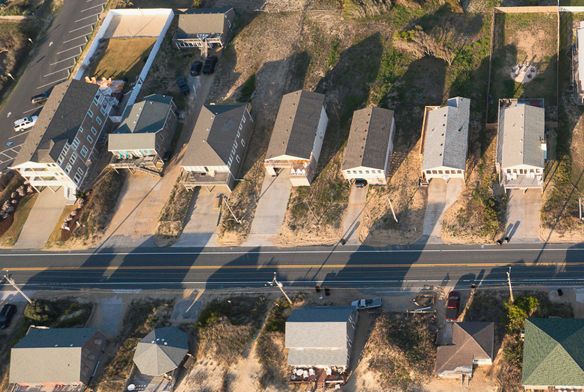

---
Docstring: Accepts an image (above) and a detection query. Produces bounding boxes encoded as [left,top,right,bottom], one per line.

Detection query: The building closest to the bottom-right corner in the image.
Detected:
[522,318,584,392]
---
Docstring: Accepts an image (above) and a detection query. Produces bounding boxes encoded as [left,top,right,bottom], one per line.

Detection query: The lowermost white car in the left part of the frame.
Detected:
[11,116,33,133]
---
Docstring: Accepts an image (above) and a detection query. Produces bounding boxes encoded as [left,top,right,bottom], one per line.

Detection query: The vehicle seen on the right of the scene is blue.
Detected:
[355,295,383,310]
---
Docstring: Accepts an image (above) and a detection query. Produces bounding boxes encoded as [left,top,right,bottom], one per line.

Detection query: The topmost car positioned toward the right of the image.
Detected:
[354,178,367,191]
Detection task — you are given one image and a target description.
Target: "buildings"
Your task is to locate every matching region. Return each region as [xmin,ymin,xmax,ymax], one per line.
[341,107,397,187]
[285,295,361,392]
[109,90,182,186]
[434,322,494,384]
[417,92,471,187]
[569,19,584,111]
[9,38,124,214]
[522,318,584,392]
[265,90,331,186]
[2,312,118,392]
[494,102,545,202]
[178,105,259,202]
[120,322,200,392]
[174,6,238,71]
